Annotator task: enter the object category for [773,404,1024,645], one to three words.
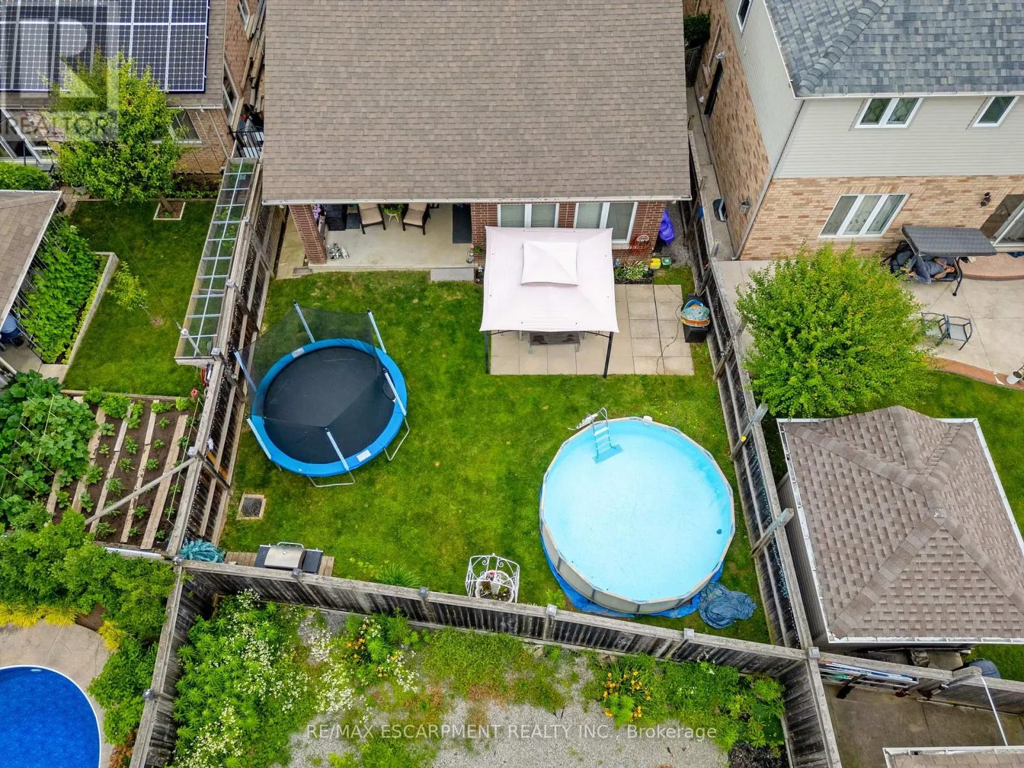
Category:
building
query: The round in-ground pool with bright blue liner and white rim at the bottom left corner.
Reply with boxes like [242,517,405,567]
[0,665,102,768]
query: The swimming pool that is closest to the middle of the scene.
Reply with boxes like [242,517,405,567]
[538,416,735,615]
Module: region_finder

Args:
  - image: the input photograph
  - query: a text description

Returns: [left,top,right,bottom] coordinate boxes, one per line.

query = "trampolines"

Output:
[233,301,409,490]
